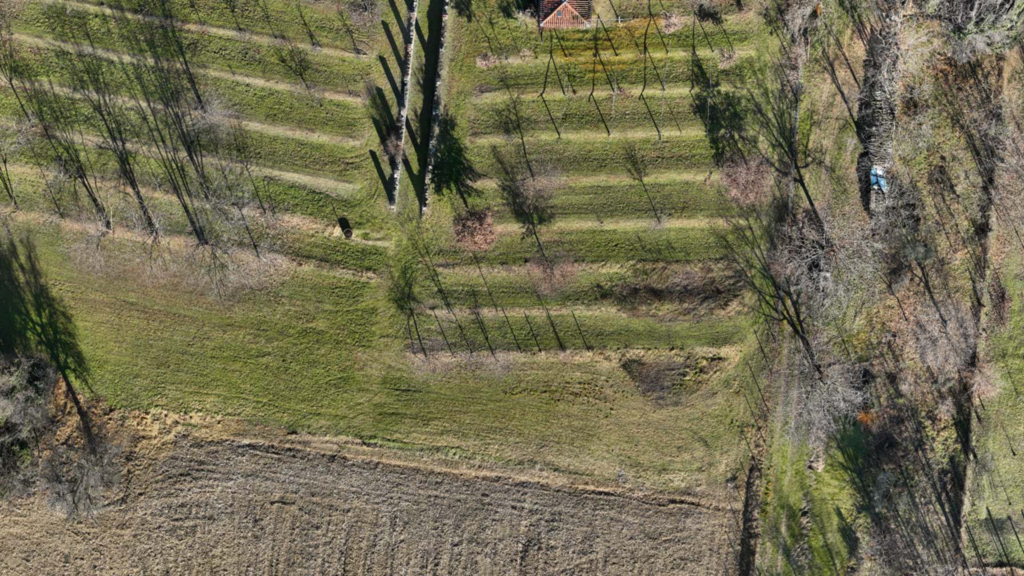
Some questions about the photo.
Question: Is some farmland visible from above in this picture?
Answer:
Yes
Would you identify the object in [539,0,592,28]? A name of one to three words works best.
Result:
shed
